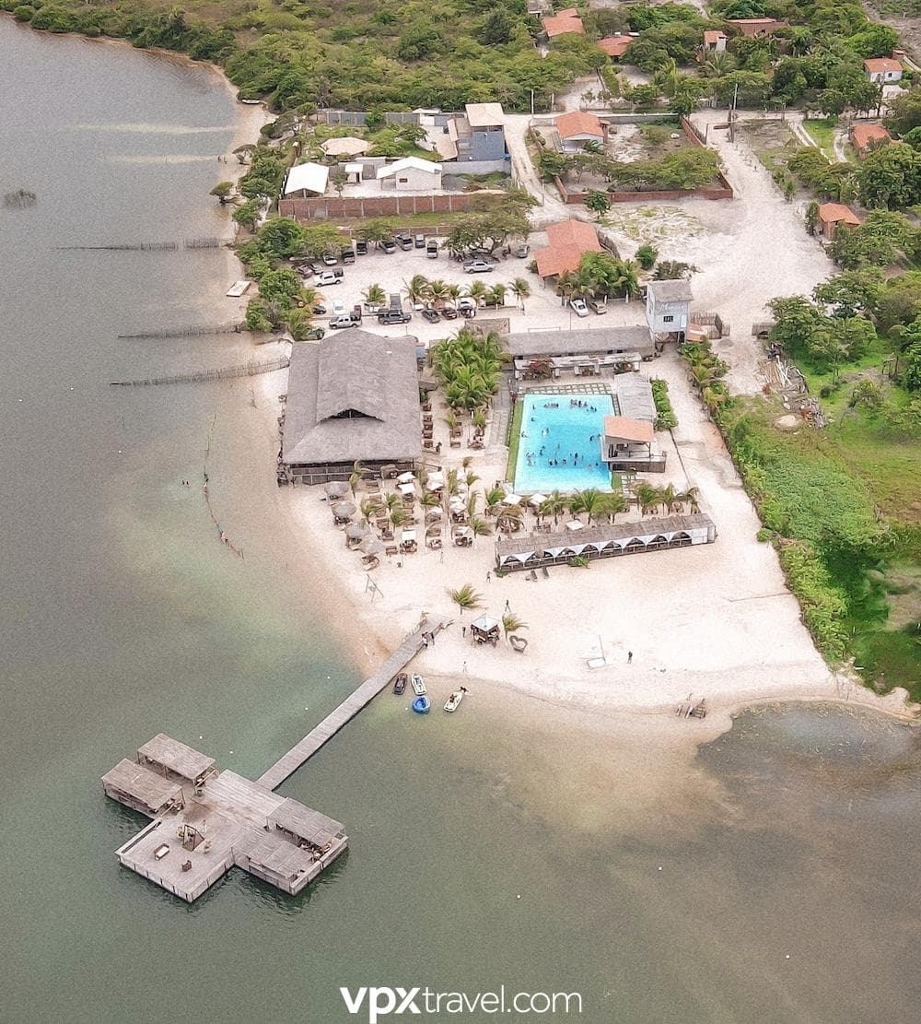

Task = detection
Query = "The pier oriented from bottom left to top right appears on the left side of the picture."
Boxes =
[258,612,469,794]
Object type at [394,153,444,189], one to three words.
house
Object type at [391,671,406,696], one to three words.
boat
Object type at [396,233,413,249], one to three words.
car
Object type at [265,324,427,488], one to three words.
building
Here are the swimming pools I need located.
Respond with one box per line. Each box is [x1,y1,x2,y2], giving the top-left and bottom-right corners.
[510,392,618,499]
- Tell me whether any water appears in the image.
Yes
